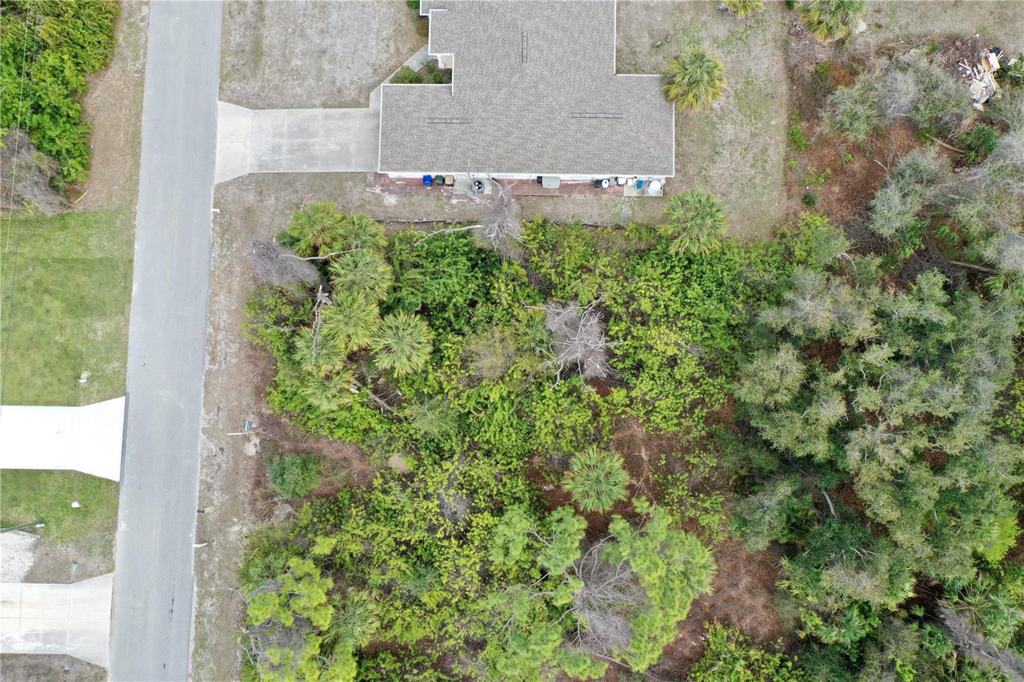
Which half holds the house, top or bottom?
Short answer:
top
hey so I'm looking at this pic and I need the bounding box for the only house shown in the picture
[377,0,676,184]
